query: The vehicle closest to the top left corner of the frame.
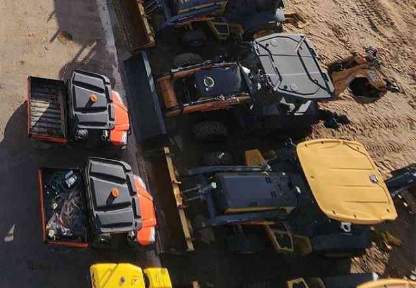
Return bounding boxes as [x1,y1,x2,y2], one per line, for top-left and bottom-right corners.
[22,72,139,163]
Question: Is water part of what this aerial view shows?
No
